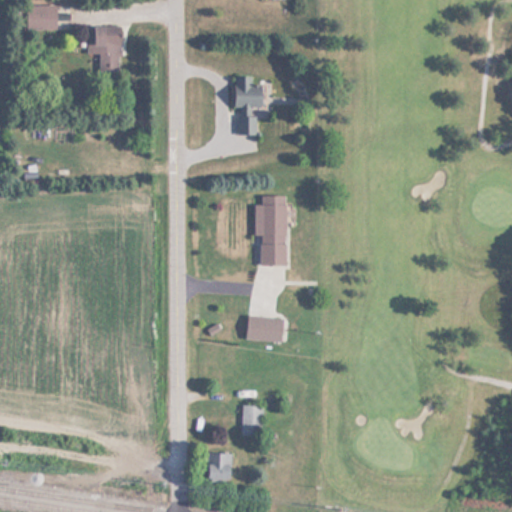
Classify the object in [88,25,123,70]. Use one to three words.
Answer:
house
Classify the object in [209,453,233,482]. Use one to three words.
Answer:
house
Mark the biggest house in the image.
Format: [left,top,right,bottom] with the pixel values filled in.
[256,196,288,266]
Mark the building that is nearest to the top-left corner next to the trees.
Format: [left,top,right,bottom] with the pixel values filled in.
[28,4,58,30]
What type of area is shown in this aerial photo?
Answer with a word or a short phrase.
golf course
